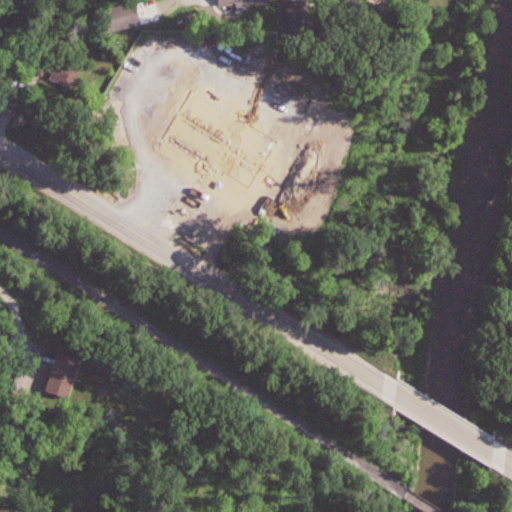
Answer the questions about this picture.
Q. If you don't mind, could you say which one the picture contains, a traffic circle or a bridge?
bridge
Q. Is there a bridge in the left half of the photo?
No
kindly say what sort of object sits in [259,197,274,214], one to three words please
vehicle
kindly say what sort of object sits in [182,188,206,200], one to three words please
vehicle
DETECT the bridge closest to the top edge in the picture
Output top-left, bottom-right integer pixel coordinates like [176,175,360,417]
[380,368,505,478]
